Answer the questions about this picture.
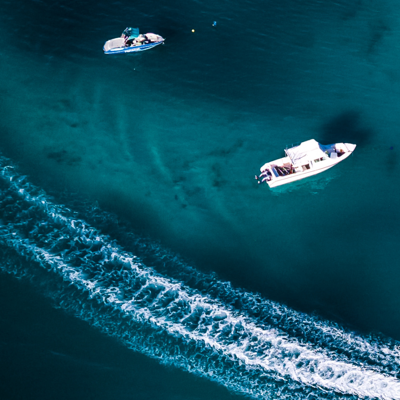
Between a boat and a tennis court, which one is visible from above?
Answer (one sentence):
It is a boat that can be seen here.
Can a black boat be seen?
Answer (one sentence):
No, there appears to be no black boat in this shot.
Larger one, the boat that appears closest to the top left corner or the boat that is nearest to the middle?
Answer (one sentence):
Of the two, the boat that is nearest to the middle is larger and the boat that appears closest to the top left corner is the smaller one.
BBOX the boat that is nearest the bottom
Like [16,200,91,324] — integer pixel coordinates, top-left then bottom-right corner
[250,144,358,192]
